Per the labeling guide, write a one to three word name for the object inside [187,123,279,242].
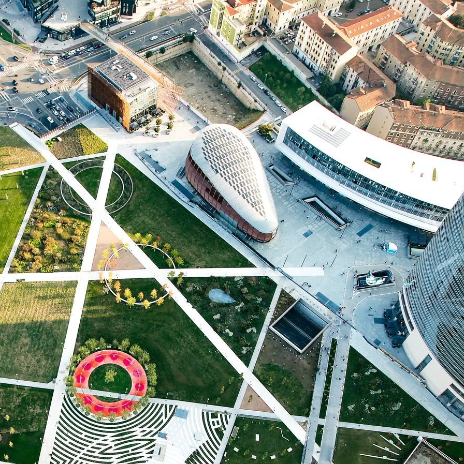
building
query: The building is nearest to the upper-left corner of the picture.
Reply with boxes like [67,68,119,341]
[27,0,60,29]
